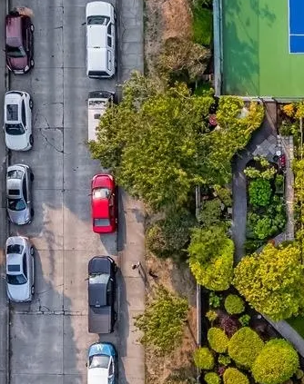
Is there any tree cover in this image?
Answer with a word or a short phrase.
Yes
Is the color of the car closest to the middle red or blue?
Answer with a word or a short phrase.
red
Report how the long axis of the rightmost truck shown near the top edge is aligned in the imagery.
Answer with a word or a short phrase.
up and down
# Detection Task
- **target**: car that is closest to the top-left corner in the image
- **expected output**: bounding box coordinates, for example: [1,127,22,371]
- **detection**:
[2,12,36,74]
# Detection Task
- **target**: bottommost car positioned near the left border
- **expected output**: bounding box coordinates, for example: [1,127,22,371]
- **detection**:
[3,235,37,302]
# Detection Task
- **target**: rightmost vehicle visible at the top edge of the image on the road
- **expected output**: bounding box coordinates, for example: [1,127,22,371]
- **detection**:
[83,2,116,78]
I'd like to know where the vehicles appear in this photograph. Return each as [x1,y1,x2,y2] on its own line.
[87,174,119,234]
[83,2,116,78]
[84,90,117,142]
[2,12,36,74]
[3,235,37,302]
[84,342,118,384]
[2,90,35,151]
[2,164,36,225]
[84,256,118,334]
